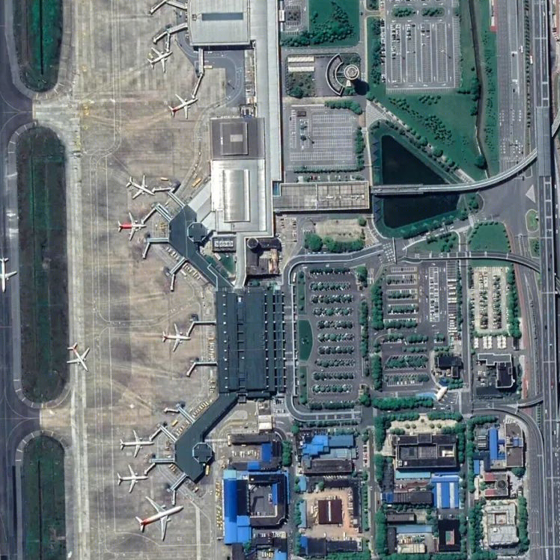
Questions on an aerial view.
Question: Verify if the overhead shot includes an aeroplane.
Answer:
Yes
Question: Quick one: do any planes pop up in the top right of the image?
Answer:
No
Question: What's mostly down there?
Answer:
paved ground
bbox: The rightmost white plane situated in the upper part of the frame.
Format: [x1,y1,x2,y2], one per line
[169,95,197,116]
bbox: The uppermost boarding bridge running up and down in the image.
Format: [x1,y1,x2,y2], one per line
[190,47,203,99]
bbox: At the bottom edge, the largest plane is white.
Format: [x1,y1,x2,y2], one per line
[134,498,184,542]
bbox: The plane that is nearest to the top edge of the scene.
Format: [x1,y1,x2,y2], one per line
[147,47,172,69]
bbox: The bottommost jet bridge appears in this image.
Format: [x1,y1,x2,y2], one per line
[170,476,187,507]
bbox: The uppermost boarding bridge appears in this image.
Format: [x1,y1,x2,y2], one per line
[149,0,188,14]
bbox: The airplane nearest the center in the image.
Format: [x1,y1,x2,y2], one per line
[162,324,190,351]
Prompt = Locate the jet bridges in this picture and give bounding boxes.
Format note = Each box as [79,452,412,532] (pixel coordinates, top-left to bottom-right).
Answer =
[185,362,216,377]
[185,322,216,338]
[148,424,176,443]
[163,405,195,423]
[190,47,203,99]
[142,237,167,260]
[140,203,172,225]
[151,24,188,52]
[149,0,188,14]
[170,476,187,507]
[142,459,174,476]
[170,259,186,293]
